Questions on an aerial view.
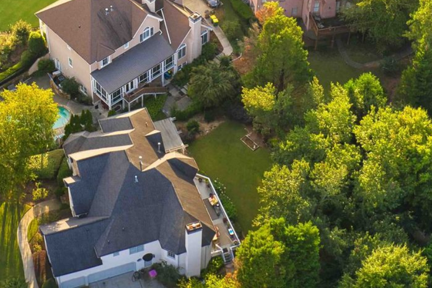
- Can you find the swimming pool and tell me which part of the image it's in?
left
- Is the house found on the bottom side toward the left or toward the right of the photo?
left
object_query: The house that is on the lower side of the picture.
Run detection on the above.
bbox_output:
[42,105,240,288]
